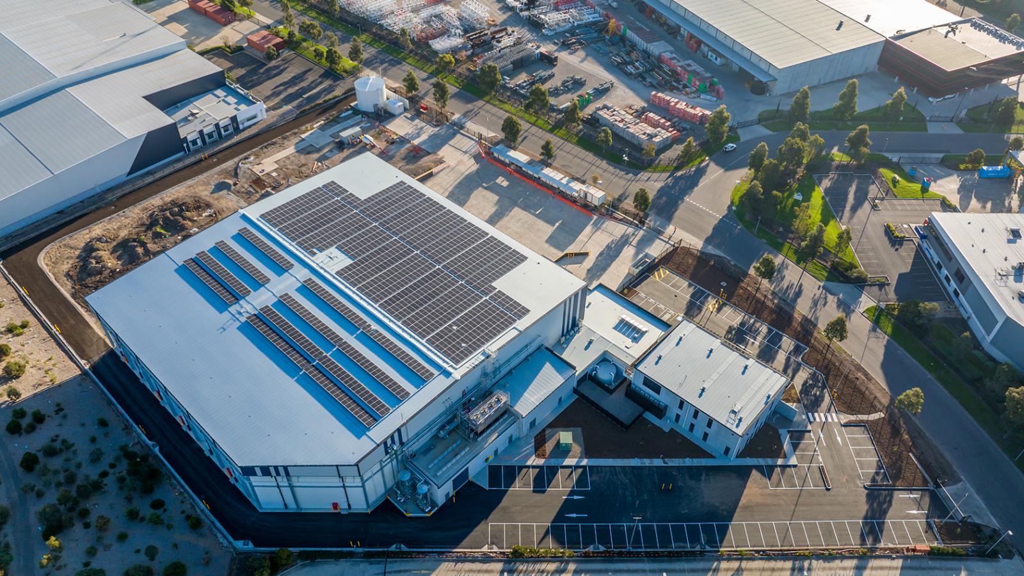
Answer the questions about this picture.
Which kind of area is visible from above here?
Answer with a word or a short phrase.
industrial area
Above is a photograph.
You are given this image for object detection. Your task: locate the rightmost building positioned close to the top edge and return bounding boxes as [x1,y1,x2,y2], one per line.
[876,15,1024,102]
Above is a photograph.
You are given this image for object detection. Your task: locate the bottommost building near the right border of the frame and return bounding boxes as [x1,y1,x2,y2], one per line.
[911,211,1024,369]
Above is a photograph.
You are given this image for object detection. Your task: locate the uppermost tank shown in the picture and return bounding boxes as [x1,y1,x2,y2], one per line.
[354,76,392,120]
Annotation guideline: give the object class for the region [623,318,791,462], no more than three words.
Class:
building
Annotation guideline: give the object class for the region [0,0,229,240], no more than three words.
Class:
warehouse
